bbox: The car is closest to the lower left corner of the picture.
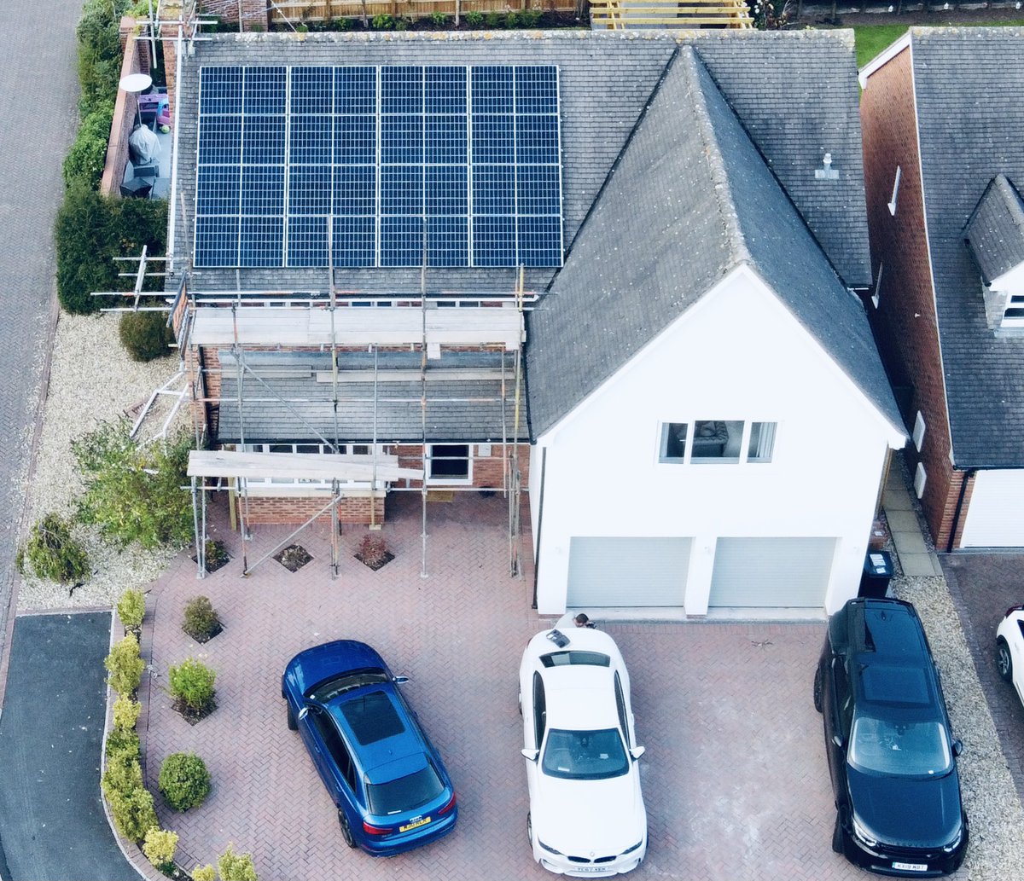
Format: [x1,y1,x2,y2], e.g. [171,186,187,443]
[281,641,453,857]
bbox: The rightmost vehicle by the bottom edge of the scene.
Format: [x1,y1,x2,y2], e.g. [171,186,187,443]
[809,597,975,873]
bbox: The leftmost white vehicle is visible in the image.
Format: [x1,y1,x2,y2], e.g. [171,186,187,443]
[517,625,650,879]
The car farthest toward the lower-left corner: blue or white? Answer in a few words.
blue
